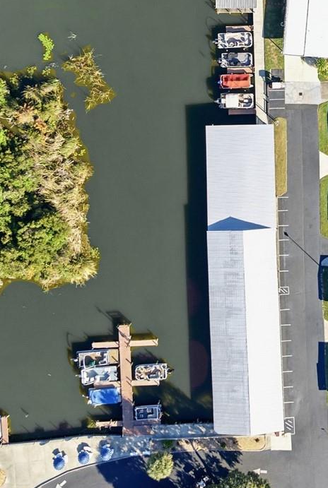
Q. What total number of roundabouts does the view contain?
0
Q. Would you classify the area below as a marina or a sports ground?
marina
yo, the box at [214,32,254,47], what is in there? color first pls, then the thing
white boat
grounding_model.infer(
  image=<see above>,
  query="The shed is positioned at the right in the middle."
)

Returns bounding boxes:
[205,124,284,435]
